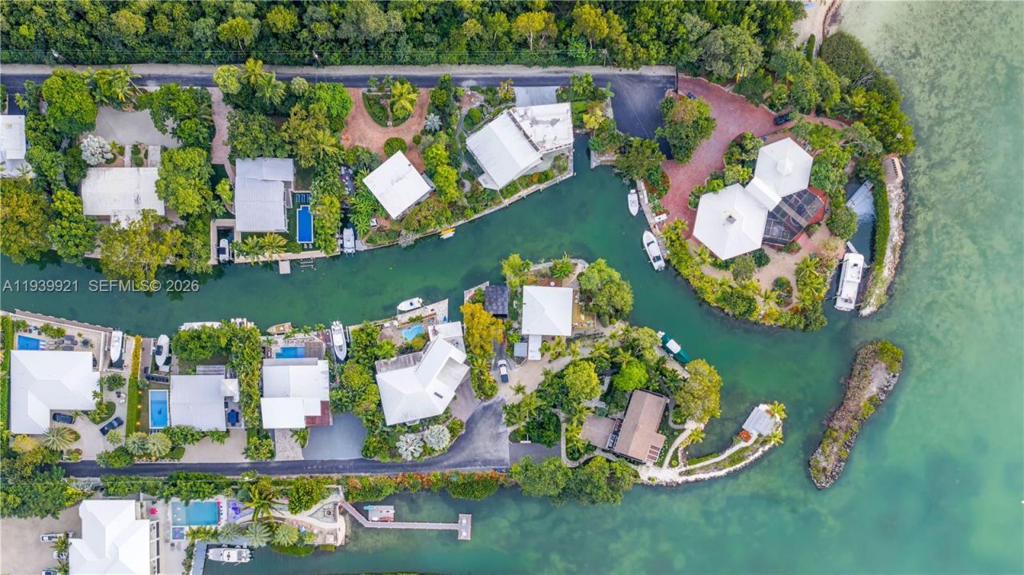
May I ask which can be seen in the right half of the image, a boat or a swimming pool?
boat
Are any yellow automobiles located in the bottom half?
No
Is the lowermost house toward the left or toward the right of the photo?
left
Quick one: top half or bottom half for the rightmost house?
top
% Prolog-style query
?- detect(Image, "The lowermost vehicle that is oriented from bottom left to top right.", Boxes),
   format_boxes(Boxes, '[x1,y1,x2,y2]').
[96,416,124,438]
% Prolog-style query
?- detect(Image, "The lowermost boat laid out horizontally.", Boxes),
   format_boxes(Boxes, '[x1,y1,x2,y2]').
[206,547,251,564]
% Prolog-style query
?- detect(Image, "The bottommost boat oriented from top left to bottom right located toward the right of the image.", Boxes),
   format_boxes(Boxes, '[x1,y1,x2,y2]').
[660,333,689,361]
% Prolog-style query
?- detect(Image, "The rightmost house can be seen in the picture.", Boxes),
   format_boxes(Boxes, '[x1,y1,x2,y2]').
[690,137,813,260]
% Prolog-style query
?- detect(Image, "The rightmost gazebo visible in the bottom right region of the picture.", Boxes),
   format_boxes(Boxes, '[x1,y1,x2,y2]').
[739,406,775,436]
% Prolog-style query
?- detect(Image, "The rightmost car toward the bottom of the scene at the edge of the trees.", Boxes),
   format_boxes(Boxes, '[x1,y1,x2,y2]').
[497,359,511,384]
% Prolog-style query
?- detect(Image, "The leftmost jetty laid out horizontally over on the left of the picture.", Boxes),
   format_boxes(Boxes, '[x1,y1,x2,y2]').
[13,309,110,332]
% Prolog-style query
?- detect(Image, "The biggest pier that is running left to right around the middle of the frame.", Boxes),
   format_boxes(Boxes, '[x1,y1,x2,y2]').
[397,299,448,325]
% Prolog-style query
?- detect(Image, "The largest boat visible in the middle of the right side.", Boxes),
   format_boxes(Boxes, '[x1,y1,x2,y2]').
[836,252,867,313]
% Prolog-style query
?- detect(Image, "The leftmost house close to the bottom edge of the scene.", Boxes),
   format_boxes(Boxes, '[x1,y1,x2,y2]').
[68,495,172,575]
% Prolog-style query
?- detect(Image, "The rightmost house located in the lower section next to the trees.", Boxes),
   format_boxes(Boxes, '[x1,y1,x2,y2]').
[582,388,669,464]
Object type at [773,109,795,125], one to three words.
car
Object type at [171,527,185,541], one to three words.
swimming pool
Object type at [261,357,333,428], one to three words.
house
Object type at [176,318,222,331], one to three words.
boat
